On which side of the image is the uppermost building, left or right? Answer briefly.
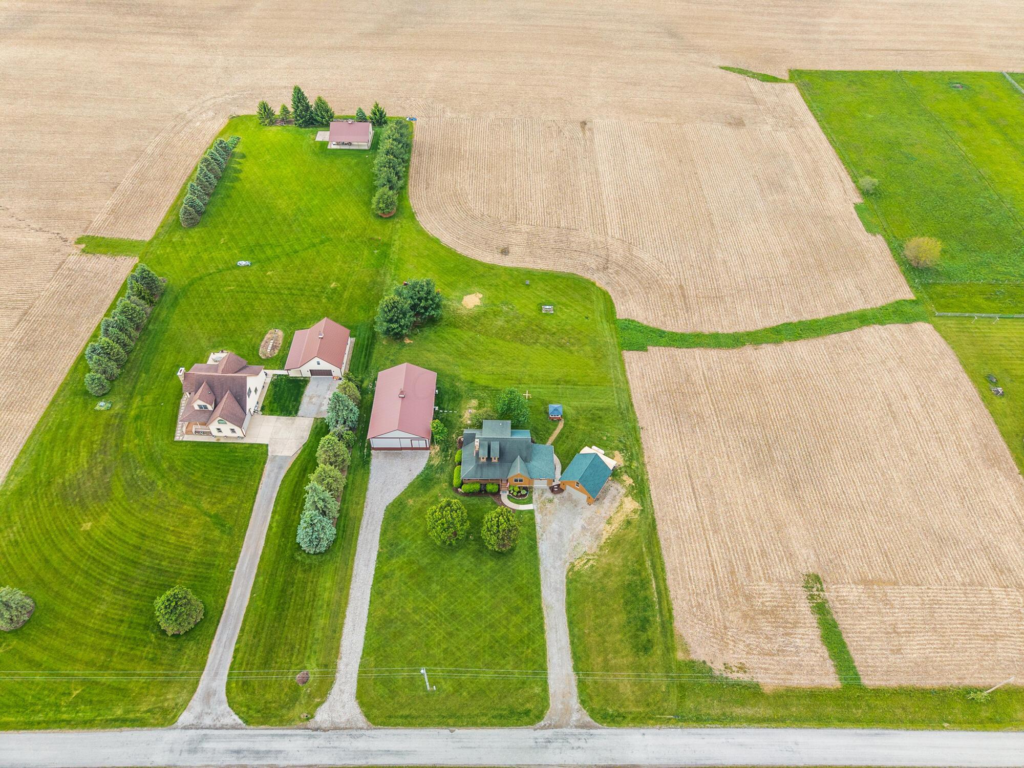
left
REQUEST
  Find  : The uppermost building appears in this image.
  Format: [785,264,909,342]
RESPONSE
[328,121,372,147]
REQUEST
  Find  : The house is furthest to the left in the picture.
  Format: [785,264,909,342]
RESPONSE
[177,351,266,436]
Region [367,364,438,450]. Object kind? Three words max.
barn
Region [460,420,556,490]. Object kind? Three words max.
house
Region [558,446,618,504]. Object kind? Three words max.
building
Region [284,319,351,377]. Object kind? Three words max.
building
